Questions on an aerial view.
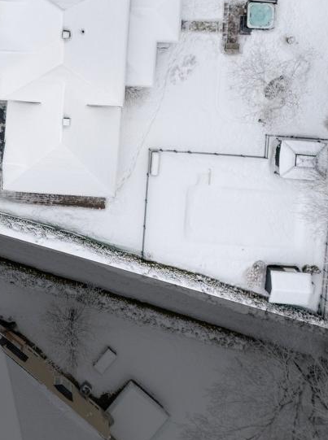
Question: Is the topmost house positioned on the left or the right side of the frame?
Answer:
left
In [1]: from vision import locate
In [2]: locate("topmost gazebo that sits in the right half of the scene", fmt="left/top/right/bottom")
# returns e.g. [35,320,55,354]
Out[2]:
[271,136,327,179]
